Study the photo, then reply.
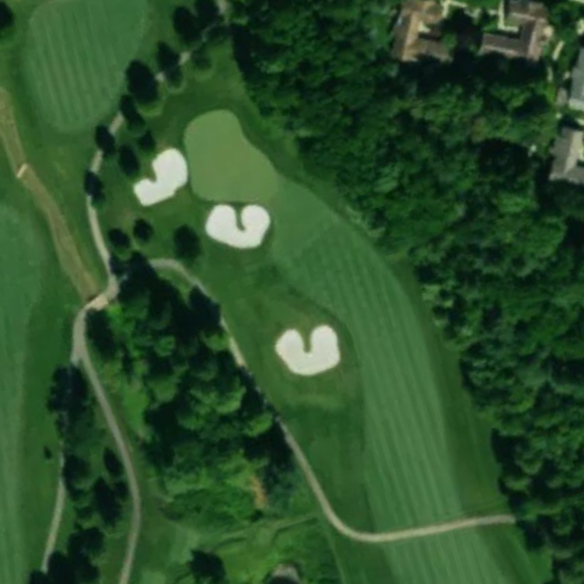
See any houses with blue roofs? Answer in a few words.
No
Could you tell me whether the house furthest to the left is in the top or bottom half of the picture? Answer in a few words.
top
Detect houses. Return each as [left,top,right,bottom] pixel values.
[394,1,452,65]
[570,47,584,109]
[482,1,550,60]
[553,127,584,185]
